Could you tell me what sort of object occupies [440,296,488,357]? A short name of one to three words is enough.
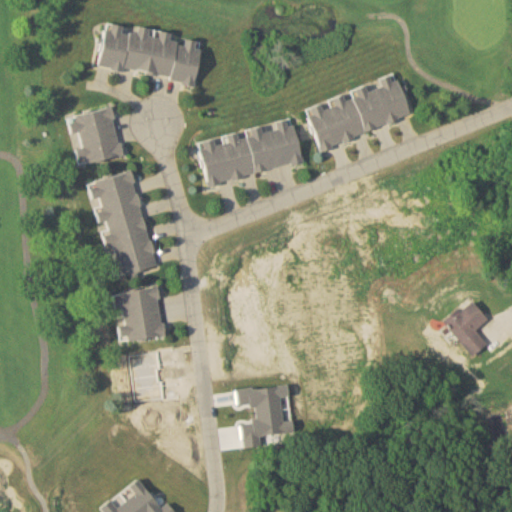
house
